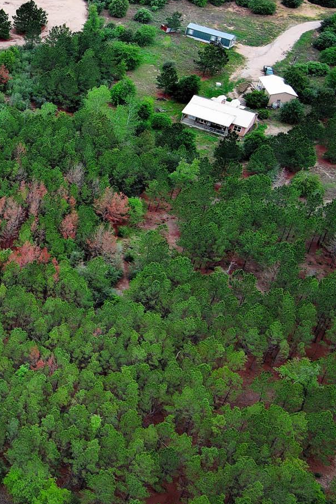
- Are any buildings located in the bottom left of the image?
No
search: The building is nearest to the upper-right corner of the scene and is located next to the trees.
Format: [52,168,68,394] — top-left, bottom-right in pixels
[253,73,298,108]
